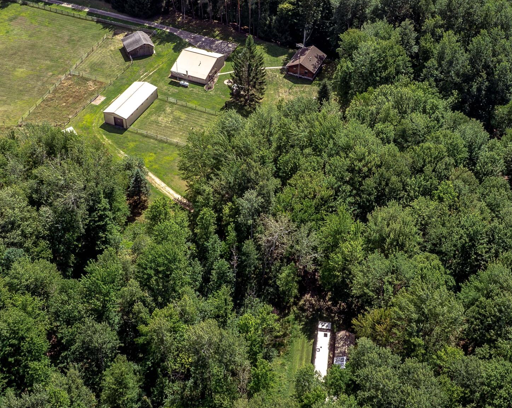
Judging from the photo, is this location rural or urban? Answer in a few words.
rural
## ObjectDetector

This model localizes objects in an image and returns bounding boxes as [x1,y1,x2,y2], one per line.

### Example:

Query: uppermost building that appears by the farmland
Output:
[122,31,154,58]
